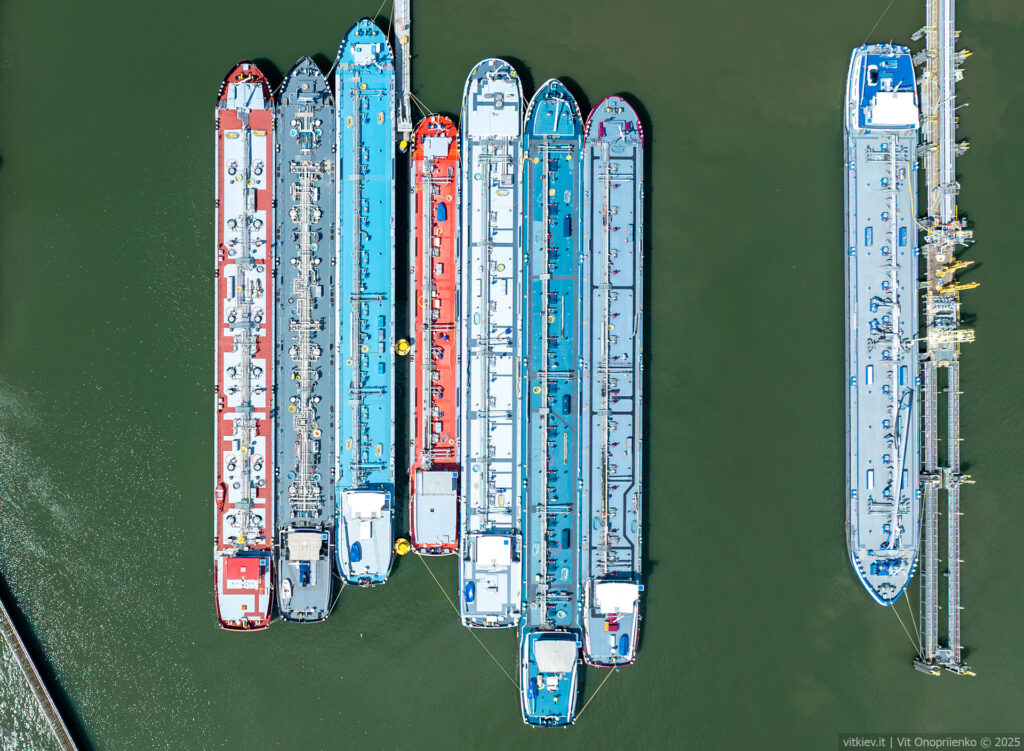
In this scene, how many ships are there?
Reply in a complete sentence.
The photo contains 8 ships.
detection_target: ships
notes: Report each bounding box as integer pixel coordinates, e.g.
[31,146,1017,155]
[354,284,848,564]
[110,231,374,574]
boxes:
[460,58,523,629]
[274,55,338,622]
[581,96,644,666]
[335,17,397,586]
[843,40,922,606]
[519,79,584,728]
[214,60,277,631]
[410,114,461,556]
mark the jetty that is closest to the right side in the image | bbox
[919,0,966,668]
